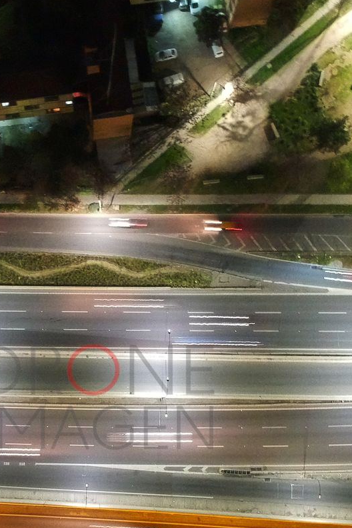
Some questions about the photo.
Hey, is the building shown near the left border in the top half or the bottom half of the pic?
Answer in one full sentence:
The building shown near the left border sits in the top half of the picture.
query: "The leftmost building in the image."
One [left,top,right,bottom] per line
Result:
[0,58,86,126]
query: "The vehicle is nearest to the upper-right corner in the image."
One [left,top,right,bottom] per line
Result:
[210,40,224,61]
